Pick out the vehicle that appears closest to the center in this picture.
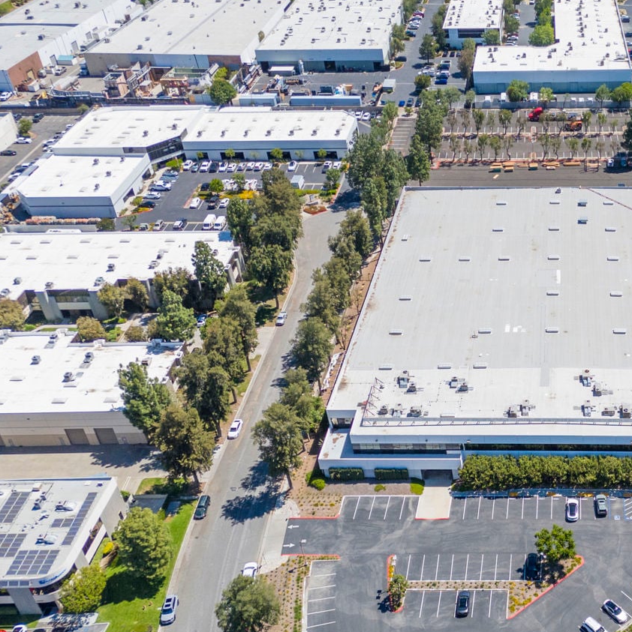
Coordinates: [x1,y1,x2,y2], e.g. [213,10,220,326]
[276,310,288,325]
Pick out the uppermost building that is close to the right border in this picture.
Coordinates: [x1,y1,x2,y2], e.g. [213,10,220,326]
[473,0,631,93]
